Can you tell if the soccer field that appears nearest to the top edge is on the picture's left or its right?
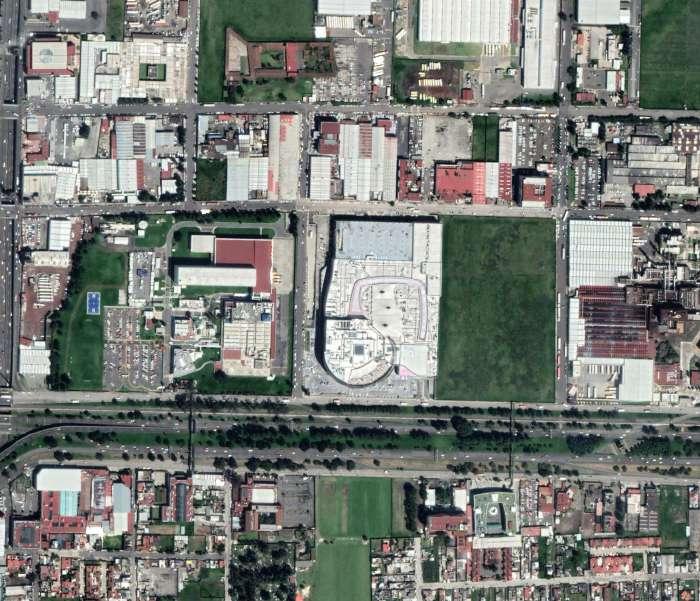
left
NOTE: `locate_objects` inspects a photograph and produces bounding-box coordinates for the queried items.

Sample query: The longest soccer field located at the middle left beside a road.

[49,233,128,390]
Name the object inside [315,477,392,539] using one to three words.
soccer field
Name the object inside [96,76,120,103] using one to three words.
building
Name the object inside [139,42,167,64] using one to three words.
building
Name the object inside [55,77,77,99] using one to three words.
shed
